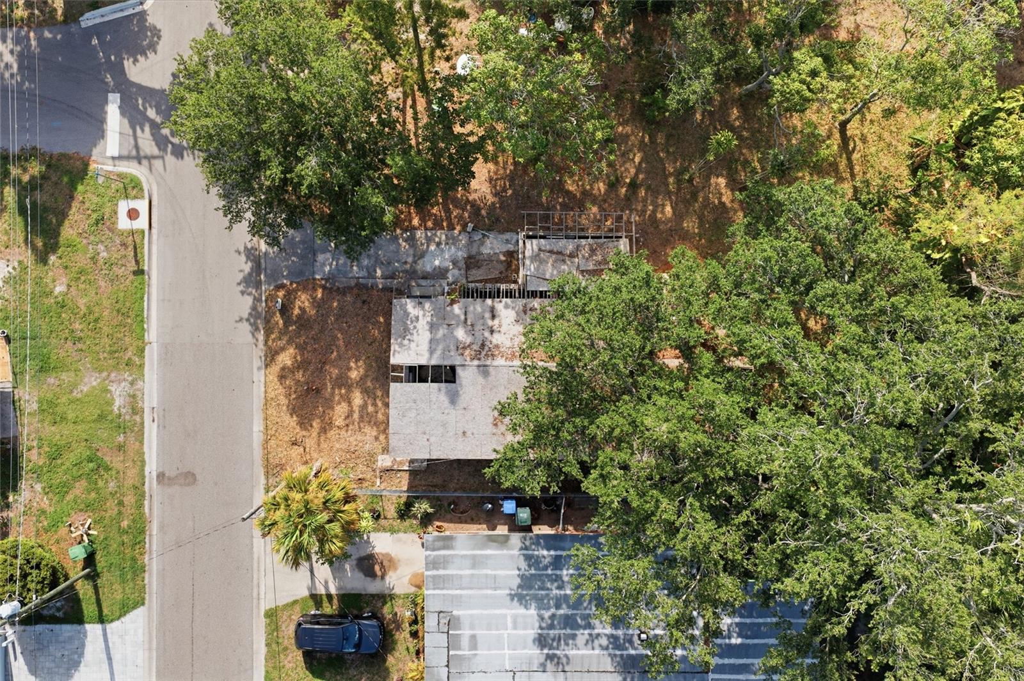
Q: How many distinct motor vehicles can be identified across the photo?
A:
one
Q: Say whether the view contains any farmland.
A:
No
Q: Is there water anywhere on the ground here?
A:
No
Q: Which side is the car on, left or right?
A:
left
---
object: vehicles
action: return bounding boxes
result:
[295,613,386,661]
